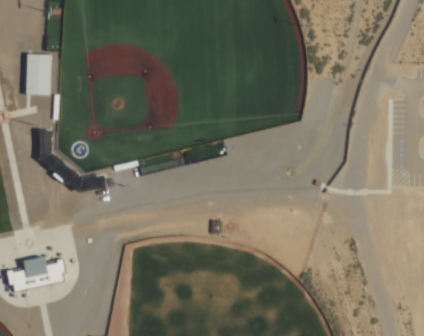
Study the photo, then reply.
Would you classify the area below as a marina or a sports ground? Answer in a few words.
sports ground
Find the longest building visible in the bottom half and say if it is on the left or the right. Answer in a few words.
left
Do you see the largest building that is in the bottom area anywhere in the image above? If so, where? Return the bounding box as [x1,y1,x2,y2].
[7,256,66,291]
